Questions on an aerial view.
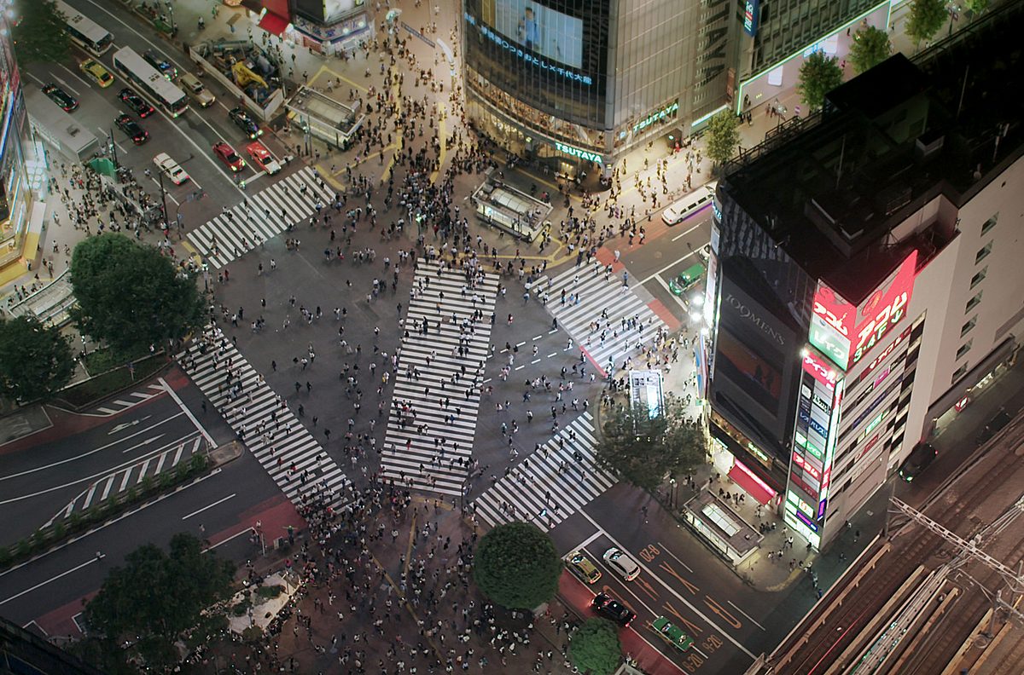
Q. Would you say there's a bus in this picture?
Yes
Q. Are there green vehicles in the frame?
Yes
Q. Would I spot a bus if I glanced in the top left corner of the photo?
Yes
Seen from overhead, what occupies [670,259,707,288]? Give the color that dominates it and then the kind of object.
green car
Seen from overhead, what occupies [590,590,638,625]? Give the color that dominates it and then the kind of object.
black car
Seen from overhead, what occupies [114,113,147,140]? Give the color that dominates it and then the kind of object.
black car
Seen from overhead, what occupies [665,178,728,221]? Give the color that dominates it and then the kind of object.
white car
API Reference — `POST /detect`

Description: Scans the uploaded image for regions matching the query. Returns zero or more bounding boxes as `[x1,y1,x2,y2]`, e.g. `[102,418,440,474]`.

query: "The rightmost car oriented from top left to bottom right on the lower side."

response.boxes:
[648,614,697,651]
